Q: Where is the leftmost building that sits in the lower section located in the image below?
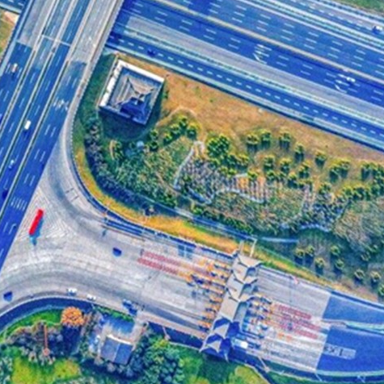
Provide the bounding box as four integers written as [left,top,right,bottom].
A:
[101,334,134,367]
